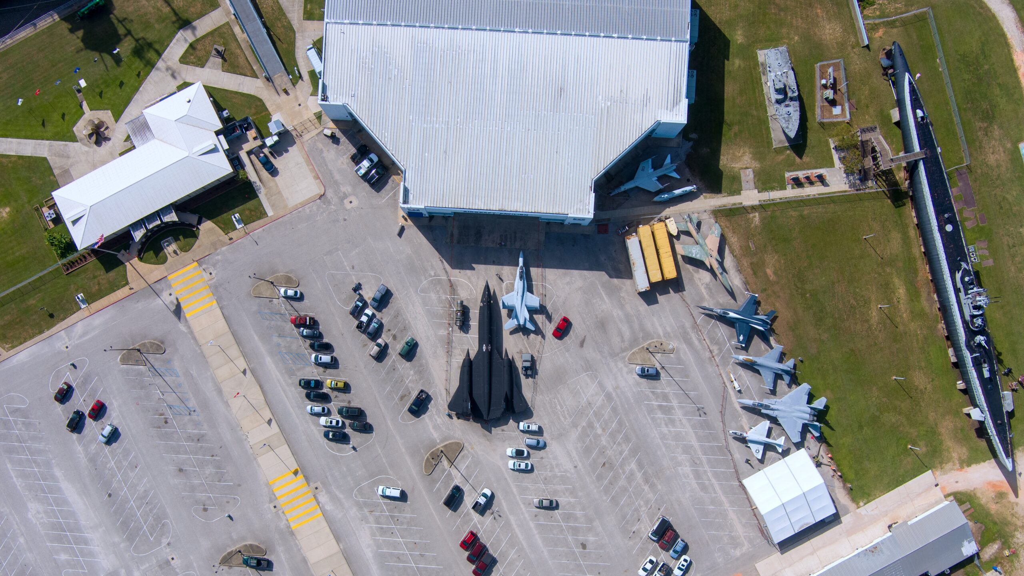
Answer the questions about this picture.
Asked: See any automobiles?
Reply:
Yes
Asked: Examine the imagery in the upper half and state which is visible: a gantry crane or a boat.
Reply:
boat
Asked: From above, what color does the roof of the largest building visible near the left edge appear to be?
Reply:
white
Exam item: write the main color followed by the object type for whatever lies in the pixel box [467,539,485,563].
red car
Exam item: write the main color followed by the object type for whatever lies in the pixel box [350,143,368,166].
black car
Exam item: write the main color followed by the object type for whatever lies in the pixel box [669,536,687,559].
blue car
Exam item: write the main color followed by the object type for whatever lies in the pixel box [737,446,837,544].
white tent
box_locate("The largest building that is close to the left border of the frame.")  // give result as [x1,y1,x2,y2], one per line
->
[51,81,235,259]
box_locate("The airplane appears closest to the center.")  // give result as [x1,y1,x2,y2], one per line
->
[501,250,540,330]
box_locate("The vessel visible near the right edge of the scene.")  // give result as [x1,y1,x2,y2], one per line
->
[880,39,1024,472]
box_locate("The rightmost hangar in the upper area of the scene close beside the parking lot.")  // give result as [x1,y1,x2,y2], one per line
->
[318,0,693,227]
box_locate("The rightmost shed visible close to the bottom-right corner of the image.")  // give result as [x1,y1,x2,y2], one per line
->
[801,498,979,576]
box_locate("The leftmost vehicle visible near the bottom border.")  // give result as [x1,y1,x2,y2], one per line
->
[243,556,272,569]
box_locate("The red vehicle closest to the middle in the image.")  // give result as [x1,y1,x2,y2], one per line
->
[553,316,570,338]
